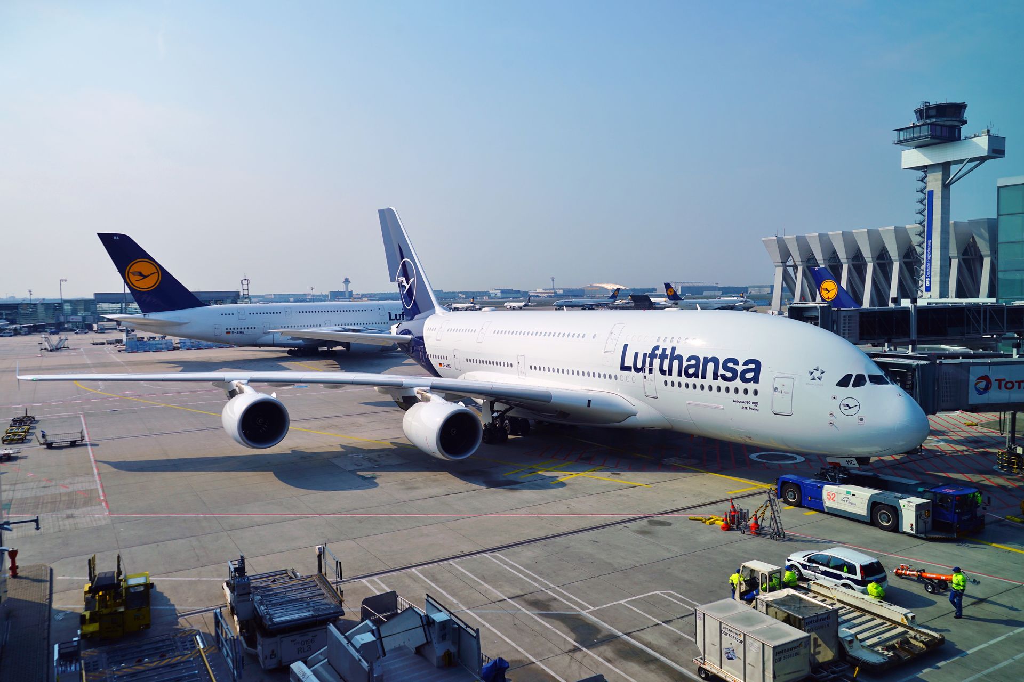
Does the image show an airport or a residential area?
airport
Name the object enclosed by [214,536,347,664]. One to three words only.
work vehicle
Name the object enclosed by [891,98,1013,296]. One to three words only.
building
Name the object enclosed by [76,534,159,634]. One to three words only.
work vehicle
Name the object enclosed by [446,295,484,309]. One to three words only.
airplane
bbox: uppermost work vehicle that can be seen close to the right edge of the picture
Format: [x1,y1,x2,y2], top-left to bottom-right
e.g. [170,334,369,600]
[774,469,1010,545]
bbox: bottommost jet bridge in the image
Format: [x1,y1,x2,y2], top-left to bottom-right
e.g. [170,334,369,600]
[869,357,1024,473]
